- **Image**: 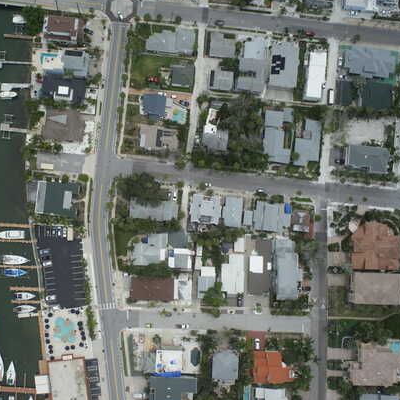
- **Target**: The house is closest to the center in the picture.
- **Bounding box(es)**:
[191,194,222,224]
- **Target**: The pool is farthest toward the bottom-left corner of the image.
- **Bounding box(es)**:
[53,316,78,344]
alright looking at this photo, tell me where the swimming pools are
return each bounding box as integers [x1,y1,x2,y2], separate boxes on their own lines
[243,387,249,400]
[39,53,58,65]
[190,347,202,368]
[389,342,400,351]
[171,109,186,122]
[53,316,78,344]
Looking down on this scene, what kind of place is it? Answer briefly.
residential area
